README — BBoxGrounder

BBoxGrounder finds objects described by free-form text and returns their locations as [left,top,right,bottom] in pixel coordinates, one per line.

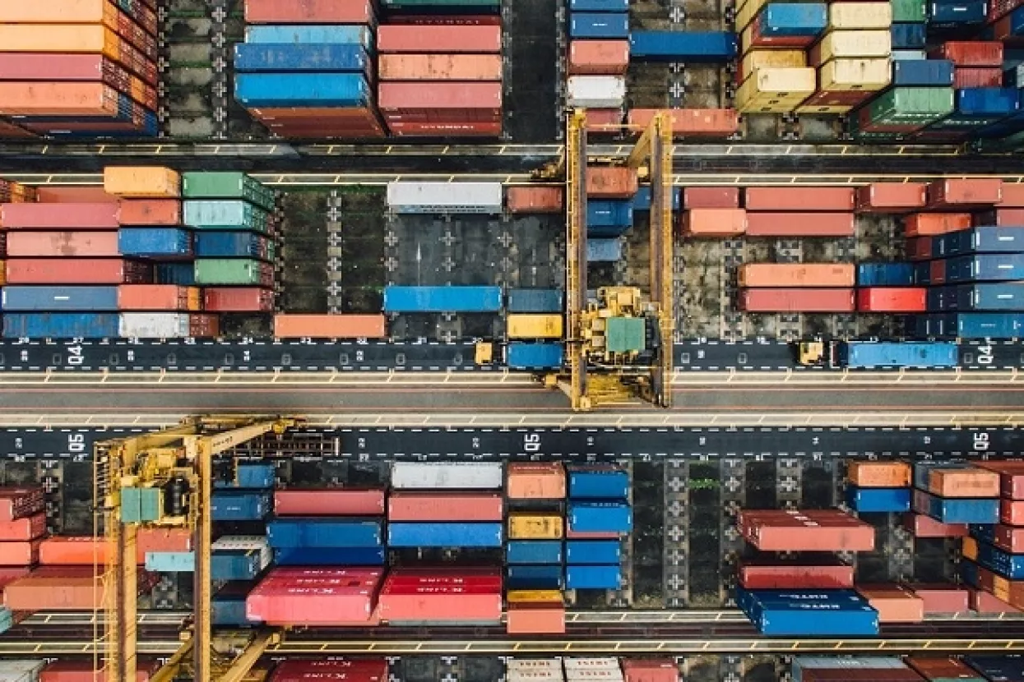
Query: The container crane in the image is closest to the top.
[523,112,675,404]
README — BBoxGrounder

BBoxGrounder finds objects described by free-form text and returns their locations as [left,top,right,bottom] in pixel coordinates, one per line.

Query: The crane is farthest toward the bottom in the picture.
[85,412,314,682]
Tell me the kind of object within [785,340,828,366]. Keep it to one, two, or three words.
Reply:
truck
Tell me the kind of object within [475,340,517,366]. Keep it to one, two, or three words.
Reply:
truck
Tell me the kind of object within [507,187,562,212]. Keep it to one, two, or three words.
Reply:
shipping container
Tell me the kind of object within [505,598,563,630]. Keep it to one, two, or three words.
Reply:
shipping container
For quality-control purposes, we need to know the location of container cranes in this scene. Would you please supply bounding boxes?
[523,112,675,404]
[85,412,314,682]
